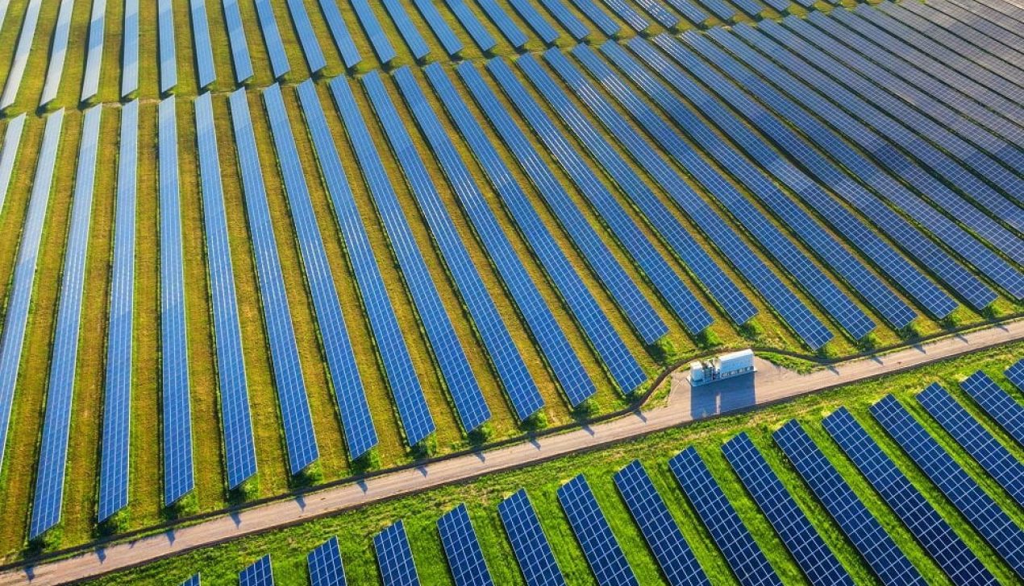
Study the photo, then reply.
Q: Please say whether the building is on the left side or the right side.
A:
right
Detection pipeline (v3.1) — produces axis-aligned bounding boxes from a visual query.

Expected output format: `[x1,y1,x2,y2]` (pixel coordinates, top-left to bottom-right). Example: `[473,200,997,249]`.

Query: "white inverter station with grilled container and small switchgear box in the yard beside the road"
[683,351,757,386]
